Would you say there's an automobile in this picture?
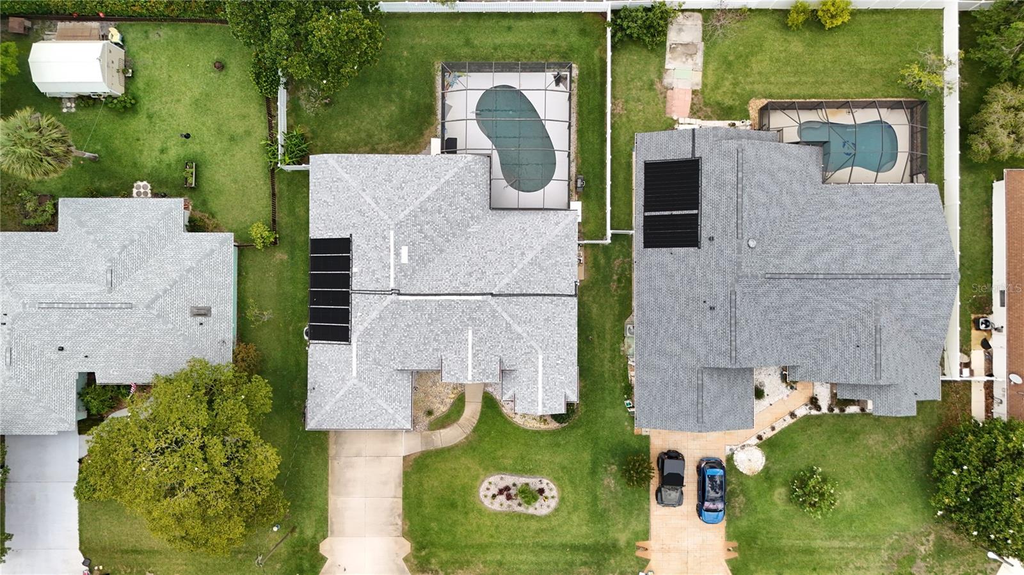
Yes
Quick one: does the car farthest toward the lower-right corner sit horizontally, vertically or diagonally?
vertically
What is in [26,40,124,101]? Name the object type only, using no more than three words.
shed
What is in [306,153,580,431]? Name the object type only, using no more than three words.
house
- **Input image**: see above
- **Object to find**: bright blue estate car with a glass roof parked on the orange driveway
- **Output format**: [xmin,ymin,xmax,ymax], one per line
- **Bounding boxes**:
[696,455,731,523]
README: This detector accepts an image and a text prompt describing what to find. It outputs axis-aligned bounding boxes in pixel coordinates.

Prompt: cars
[656,447,691,506]
[696,455,731,523]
